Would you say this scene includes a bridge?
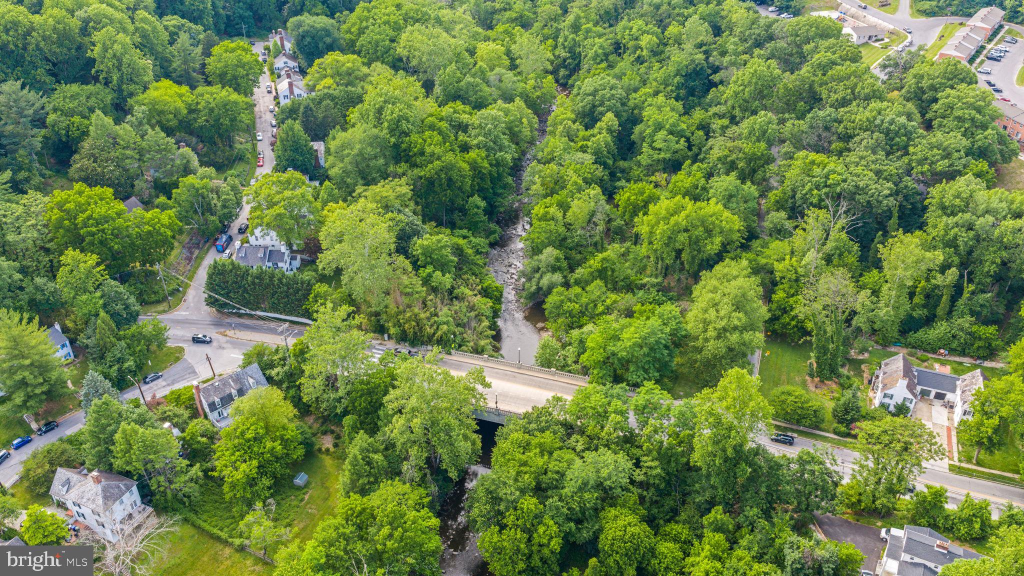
Yes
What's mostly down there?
trees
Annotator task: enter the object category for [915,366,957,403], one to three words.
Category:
building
